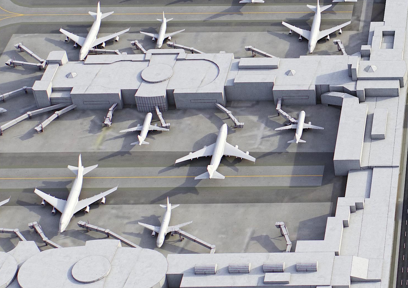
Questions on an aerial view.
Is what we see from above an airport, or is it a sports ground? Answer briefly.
airport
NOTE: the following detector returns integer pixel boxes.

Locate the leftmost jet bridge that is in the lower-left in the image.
[0,225,28,240]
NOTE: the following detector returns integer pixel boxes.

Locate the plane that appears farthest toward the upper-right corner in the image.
[280,0,351,53]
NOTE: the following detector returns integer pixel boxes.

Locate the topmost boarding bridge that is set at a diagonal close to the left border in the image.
[13,44,47,64]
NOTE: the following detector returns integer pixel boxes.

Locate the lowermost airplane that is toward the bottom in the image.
[138,199,190,247]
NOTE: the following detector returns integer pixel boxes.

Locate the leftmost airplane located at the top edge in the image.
[56,4,129,60]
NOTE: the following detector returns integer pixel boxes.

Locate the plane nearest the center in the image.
[173,123,255,176]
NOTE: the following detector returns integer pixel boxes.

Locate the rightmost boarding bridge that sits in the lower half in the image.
[274,222,293,253]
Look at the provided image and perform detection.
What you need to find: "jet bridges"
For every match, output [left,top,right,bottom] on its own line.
[105,104,118,131]
[0,86,33,104]
[130,40,147,54]
[13,44,47,64]
[77,222,141,248]
[155,107,172,129]
[0,225,28,240]
[216,103,246,129]
[0,104,69,135]
[165,41,205,54]
[274,222,293,253]
[169,227,217,253]
[244,46,277,58]
[33,105,78,135]
[27,222,62,248]
[276,99,300,126]
[4,59,47,71]
[332,39,348,55]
